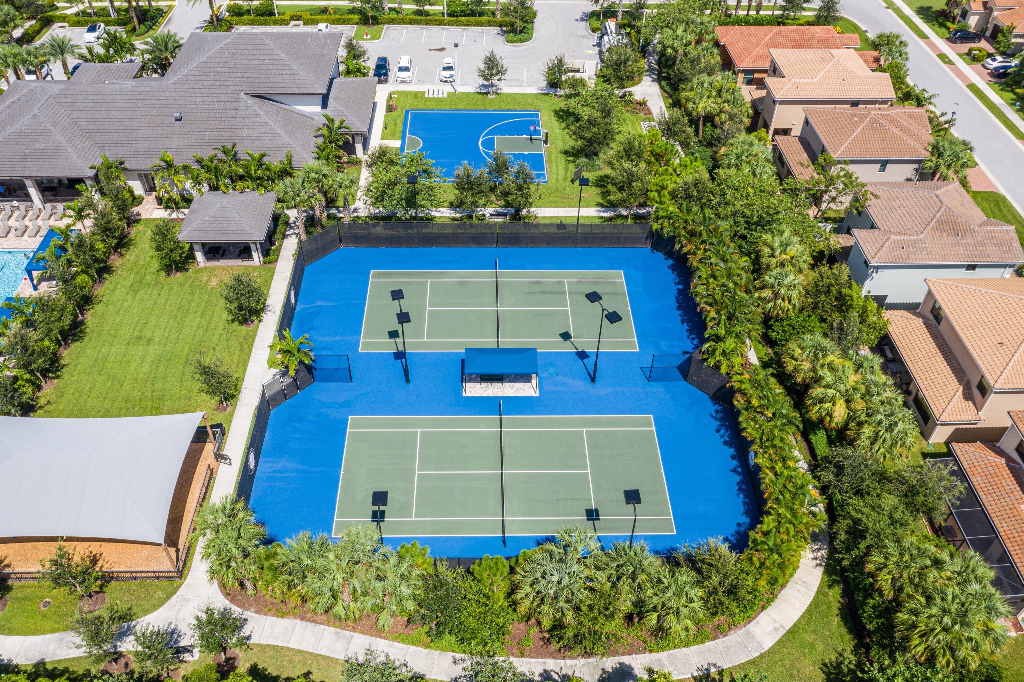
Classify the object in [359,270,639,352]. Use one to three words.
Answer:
tennis court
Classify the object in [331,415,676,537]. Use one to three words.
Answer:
tennis court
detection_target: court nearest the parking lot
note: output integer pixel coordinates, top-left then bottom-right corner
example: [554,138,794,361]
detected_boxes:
[398,109,548,183]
